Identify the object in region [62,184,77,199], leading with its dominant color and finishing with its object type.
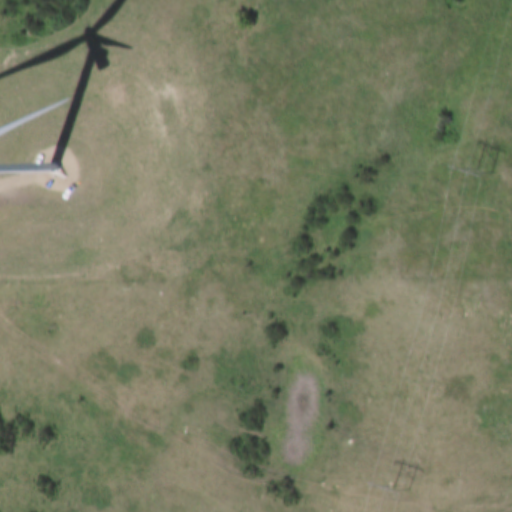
white vehicle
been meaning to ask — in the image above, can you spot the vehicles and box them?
[62,184,77,199]
[34,154,44,164]
[46,179,55,188]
